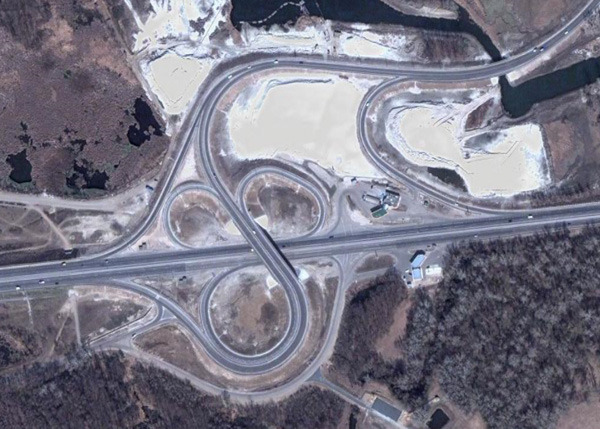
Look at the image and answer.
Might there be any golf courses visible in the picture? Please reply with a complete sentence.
No, there is no golf course in the image.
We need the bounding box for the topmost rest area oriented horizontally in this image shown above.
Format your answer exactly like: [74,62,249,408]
[329,181,457,236]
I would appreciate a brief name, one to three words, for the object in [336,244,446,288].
service area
